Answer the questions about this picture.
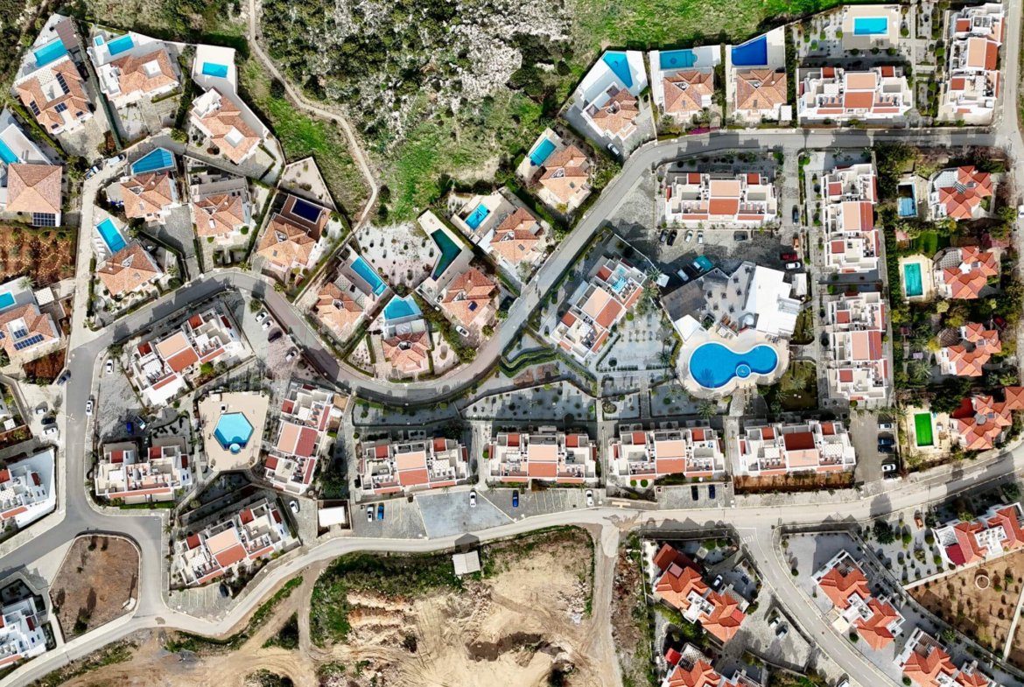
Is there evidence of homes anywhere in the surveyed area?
Yes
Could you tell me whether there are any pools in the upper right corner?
Yes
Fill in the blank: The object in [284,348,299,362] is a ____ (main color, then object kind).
white car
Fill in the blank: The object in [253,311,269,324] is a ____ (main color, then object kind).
white vehicle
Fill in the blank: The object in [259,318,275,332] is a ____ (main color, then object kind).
white car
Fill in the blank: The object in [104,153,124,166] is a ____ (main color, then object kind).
white vehicle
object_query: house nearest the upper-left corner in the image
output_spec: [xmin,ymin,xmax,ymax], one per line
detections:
[13,52,101,138]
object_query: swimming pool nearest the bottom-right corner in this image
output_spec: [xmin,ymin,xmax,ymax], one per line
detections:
[901,405,949,456]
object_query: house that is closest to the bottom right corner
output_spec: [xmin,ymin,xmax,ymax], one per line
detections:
[901,613,996,687]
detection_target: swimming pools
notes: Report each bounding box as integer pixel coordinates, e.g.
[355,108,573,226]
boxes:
[416,211,474,303]
[451,188,516,245]
[280,195,332,242]
[88,31,168,69]
[840,4,898,51]
[577,50,648,102]
[0,277,37,314]
[198,390,269,471]
[901,405,949,456]
[93,207,138,262]
[896,179,930,221]
[724,24,785,102]
[649,45,721,105]
[899,254,932,301]
[192,44,239,94]
[734,362,752,379]
[517,131,567,186]
[336,244,391,301]
[129,145,179,176]
[0,124,52,166]
[677,328,789,399]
